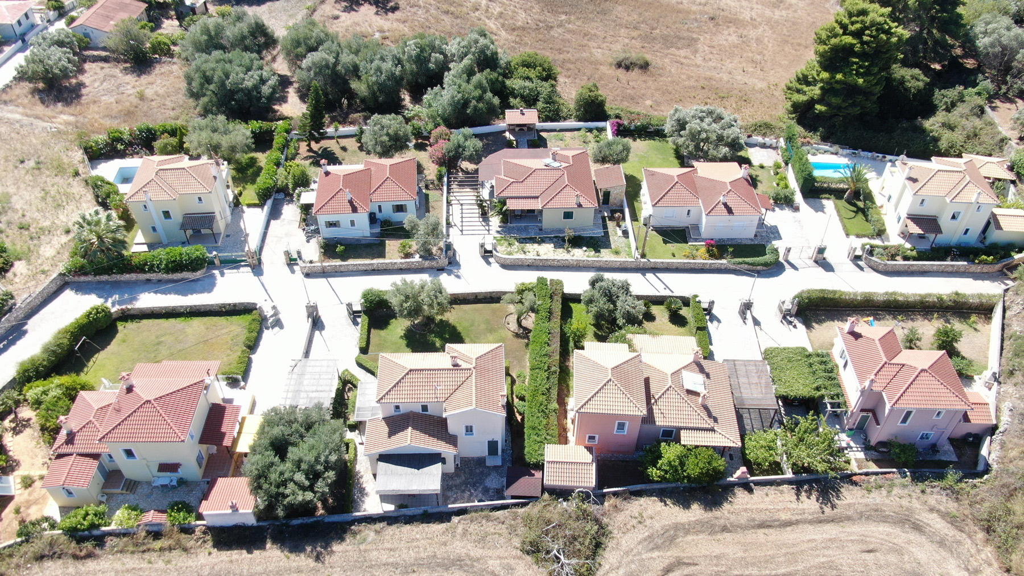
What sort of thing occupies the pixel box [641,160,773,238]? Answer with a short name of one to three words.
house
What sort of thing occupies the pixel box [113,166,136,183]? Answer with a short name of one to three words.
swimming pool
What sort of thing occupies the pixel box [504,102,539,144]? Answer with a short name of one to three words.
building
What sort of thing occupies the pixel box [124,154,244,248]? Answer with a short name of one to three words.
house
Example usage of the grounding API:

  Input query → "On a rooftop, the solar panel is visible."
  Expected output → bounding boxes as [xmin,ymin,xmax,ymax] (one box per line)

[683,370,705,392]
